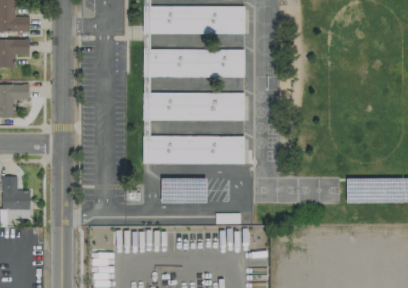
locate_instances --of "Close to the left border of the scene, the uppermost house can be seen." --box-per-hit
[0,0,30,32]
